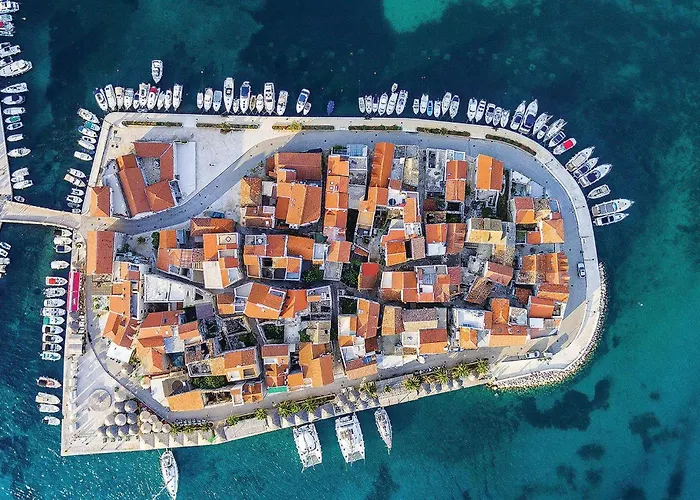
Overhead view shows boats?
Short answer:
Yes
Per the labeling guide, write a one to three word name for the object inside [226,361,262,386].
building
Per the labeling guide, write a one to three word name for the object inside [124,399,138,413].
umbrella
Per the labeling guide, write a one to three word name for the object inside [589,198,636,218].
boat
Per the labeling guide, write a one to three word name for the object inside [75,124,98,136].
boat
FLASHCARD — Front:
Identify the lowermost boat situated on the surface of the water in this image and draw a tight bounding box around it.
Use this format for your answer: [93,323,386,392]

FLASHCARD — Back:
[153,448,178,500]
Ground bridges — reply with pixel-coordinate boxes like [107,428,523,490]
[0,200,81,232]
